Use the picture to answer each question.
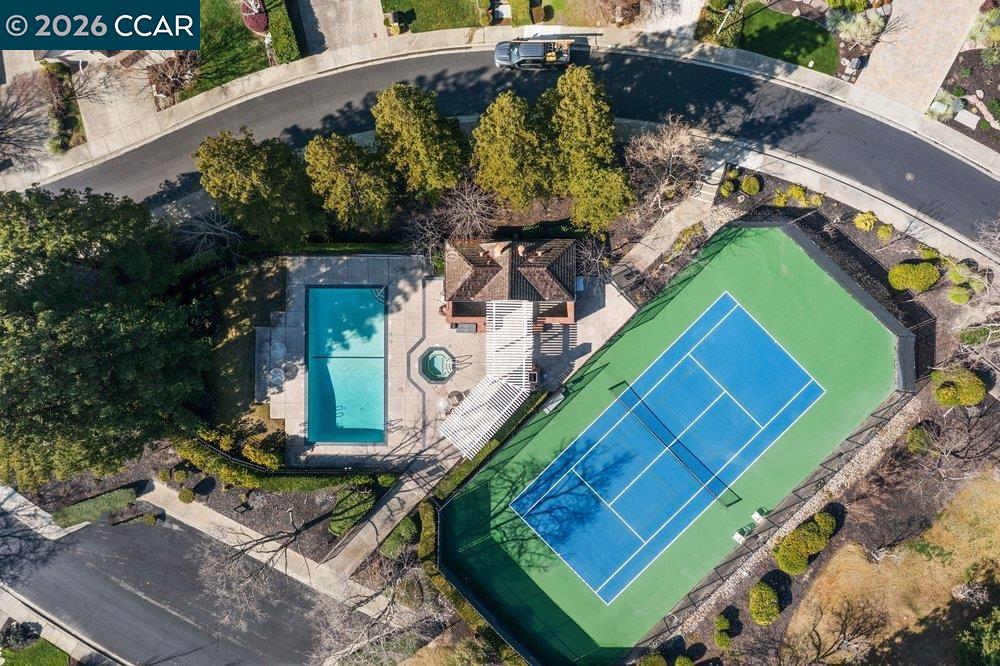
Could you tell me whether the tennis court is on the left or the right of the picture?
right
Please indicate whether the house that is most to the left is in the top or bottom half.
top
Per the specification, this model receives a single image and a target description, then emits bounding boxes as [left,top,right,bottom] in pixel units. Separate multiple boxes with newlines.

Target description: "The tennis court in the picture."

[440,229,897,666]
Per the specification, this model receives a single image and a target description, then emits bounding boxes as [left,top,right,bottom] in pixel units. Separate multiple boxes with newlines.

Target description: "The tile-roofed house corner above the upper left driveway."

[34,0,175,67]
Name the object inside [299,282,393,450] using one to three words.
swimming pool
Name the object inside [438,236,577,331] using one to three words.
building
